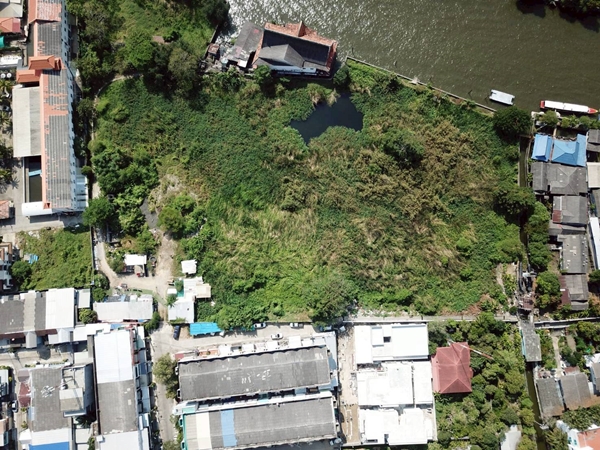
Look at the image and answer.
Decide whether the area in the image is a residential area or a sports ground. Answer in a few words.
residential area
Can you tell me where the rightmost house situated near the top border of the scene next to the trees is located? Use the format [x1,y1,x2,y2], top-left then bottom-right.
[251,22,338,77]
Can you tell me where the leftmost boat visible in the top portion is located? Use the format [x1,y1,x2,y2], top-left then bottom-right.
[488,89,515,105]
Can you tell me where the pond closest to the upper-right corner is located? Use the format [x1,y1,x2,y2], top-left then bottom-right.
[289,91,364,139]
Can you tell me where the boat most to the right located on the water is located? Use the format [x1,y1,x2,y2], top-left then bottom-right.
[538,100,598,115]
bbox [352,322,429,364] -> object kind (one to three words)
building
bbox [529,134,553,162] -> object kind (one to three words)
house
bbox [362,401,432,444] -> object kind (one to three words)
building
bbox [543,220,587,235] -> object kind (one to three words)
house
